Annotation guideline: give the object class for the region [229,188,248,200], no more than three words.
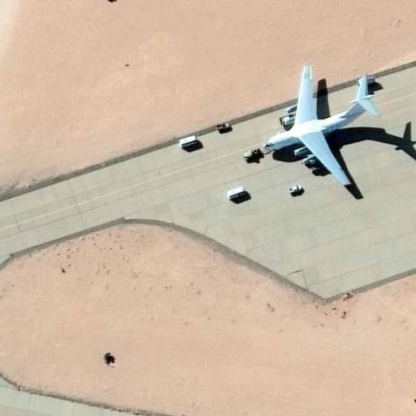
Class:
vehicle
